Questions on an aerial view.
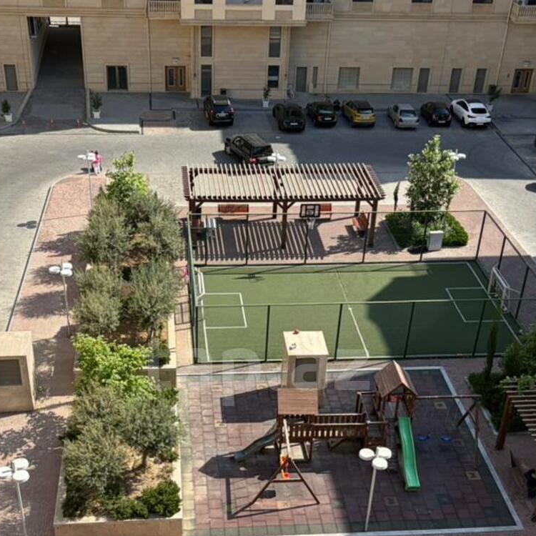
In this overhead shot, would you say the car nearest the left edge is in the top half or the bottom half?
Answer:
top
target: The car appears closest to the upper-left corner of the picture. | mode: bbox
[205,94,234,123]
